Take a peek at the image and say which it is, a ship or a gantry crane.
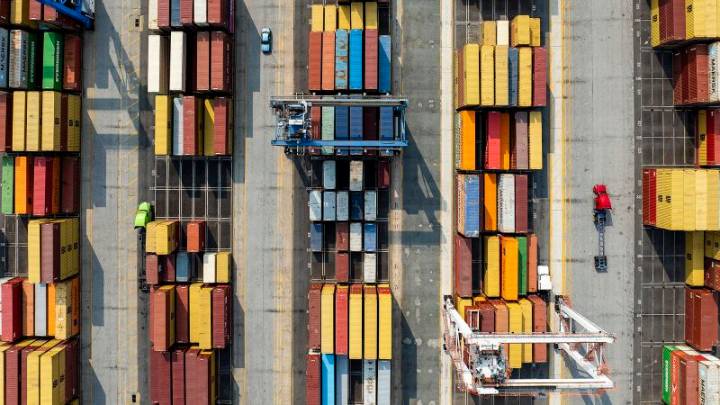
gantry crane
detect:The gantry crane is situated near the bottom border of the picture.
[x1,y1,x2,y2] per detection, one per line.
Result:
[438,290,620,398]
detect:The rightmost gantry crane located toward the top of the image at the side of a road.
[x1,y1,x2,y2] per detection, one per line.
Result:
[268,86,411,159]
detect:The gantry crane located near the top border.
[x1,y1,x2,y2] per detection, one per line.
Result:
[41,0,94,31]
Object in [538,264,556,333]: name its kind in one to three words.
vehicle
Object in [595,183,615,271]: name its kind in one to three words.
vehicle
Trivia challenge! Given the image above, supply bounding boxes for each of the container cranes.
[41,0,94,31]
[438,290,620,398]
[268,86,411,159]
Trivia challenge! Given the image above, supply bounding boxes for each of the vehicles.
[538,264,556,333]
[595,183,615,271]
[260,27,271,53]
[134,201,152,289]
